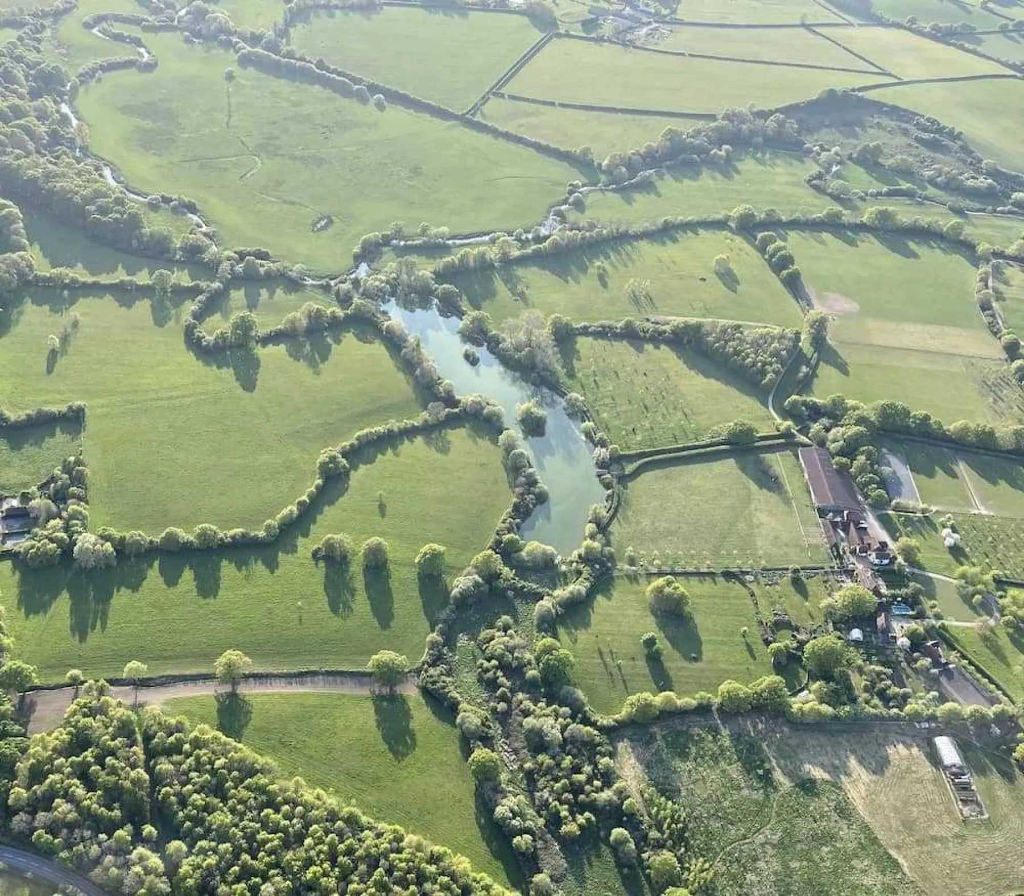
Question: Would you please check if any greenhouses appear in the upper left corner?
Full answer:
No, no greenhouse is visible in the upper left corner.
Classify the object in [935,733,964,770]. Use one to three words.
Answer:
greenhouse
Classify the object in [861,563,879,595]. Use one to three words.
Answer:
building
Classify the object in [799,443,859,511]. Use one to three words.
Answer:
barn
